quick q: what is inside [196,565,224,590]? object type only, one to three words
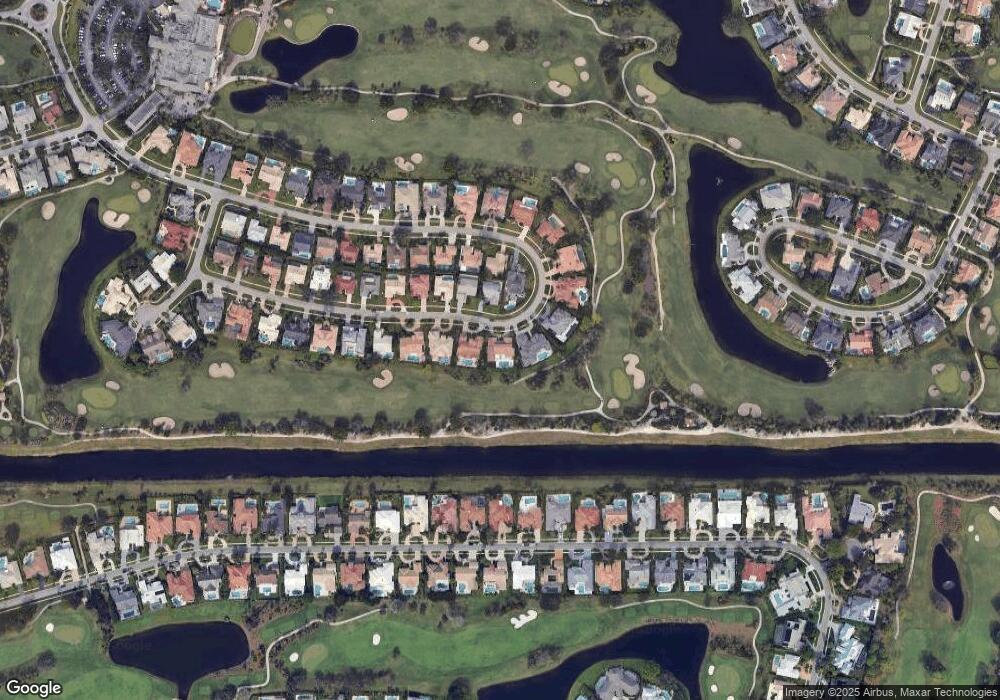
house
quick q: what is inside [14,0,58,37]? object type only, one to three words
roundabout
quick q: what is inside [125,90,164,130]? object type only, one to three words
barn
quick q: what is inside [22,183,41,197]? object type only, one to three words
swimming pool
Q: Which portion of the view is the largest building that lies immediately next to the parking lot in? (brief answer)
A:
top left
